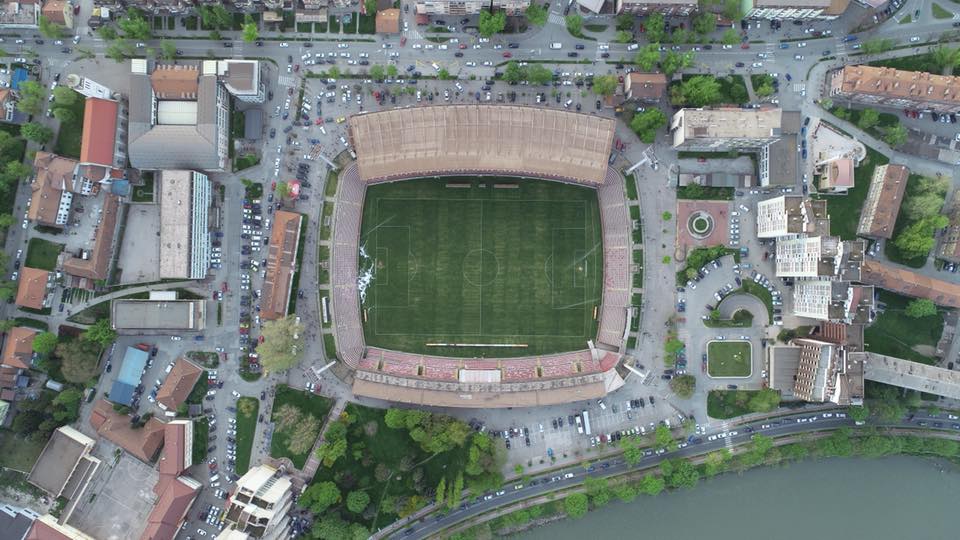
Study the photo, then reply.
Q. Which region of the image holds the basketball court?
bottom left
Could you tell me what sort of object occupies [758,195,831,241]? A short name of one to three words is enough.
building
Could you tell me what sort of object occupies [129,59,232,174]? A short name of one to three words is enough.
building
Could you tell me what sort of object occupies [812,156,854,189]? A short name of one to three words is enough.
house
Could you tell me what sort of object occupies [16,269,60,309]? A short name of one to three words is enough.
house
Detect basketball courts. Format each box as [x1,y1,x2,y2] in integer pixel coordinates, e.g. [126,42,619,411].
[92,447,156,540]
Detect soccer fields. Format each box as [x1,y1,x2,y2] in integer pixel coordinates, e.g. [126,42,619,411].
[360,178,603,357]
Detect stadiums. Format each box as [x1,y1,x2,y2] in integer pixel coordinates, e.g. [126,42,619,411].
[332,104,630,408]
